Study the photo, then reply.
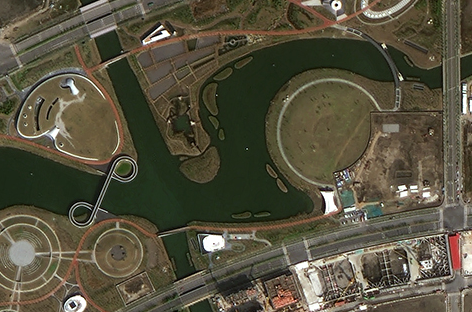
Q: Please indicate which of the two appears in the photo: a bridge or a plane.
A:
bridge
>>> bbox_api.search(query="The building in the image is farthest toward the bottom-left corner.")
[64,295,87,312]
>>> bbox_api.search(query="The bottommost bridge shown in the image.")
[168,271,216,310]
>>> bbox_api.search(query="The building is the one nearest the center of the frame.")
[201,234,227,252]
